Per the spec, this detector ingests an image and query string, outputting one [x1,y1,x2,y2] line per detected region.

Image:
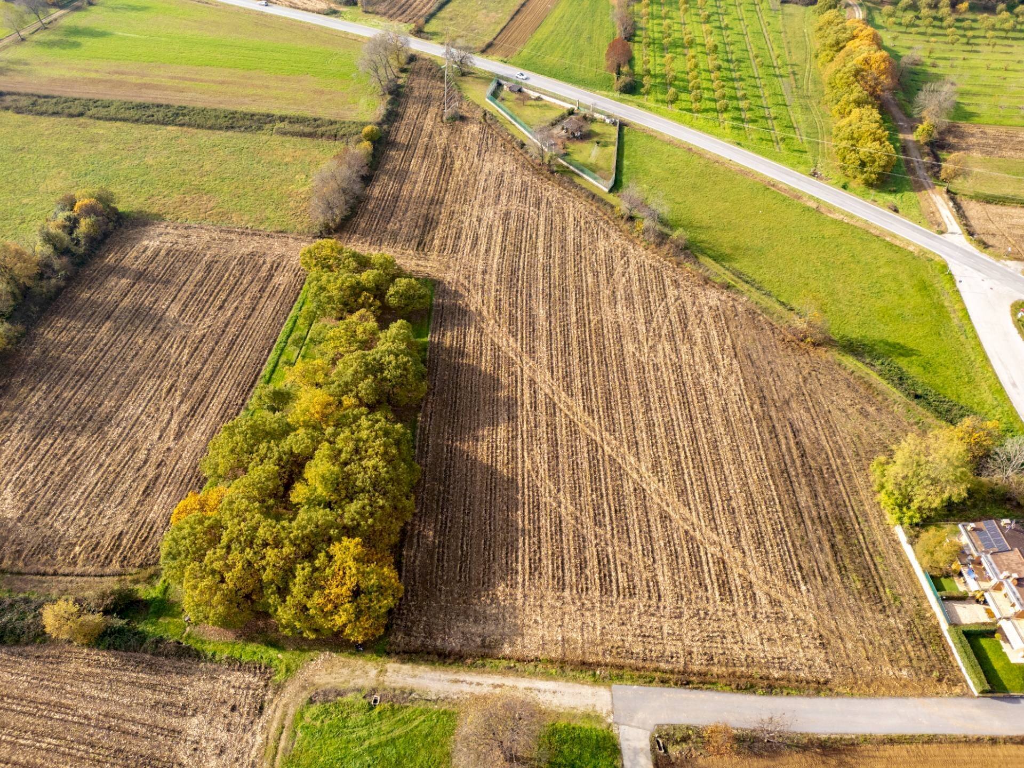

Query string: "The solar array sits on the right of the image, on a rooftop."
[978,520,1008,550]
